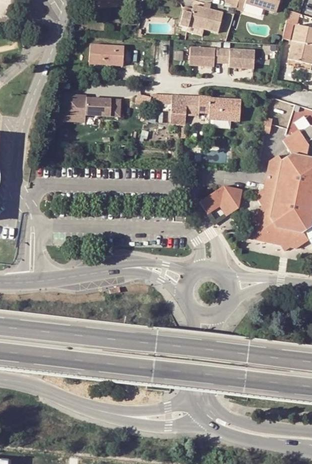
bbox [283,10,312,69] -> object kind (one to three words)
house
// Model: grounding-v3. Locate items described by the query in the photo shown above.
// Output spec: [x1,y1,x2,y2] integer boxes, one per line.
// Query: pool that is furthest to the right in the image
[246,21,272,37]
